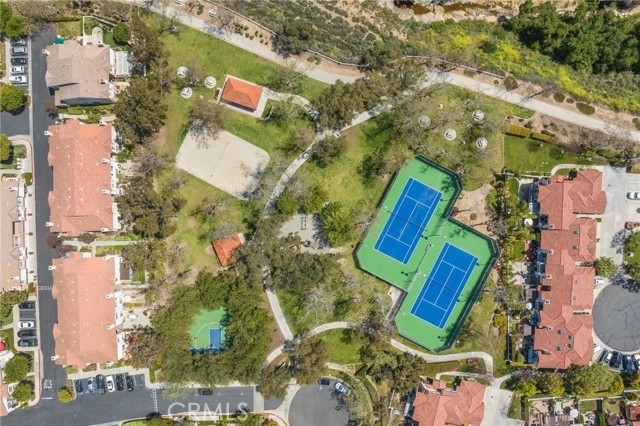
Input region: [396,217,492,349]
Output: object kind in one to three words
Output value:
tennis court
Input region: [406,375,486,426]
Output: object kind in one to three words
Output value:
house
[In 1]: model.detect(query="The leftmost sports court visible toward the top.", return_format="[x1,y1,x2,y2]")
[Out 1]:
[175,122,270,200]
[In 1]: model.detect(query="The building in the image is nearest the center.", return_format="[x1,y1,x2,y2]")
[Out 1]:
[212,234,248,267]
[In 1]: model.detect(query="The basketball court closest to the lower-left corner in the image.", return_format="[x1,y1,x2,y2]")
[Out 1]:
[184,302,235,352]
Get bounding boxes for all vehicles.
[96,374,106,394]
[86,377,95,392]
[75,379,84,394]
[11,66,25,74]
[11,57,28,65]
[115,374,125,391]
[9,75,28,83]
[19,302,36,309]
[10,46,28,54]
[622,353,632,370]
[627,192,640,199]
[334,382,350,395]
[594,344,604,355]
[106,374,116,392]
[18,321,35,329]
[11,38,28,46]
[316,377,331,386]
[609,350,622,369]
[19,329,36,337]
[599,349,612,363]
[126,374,135,390]
[18,339,38,347]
